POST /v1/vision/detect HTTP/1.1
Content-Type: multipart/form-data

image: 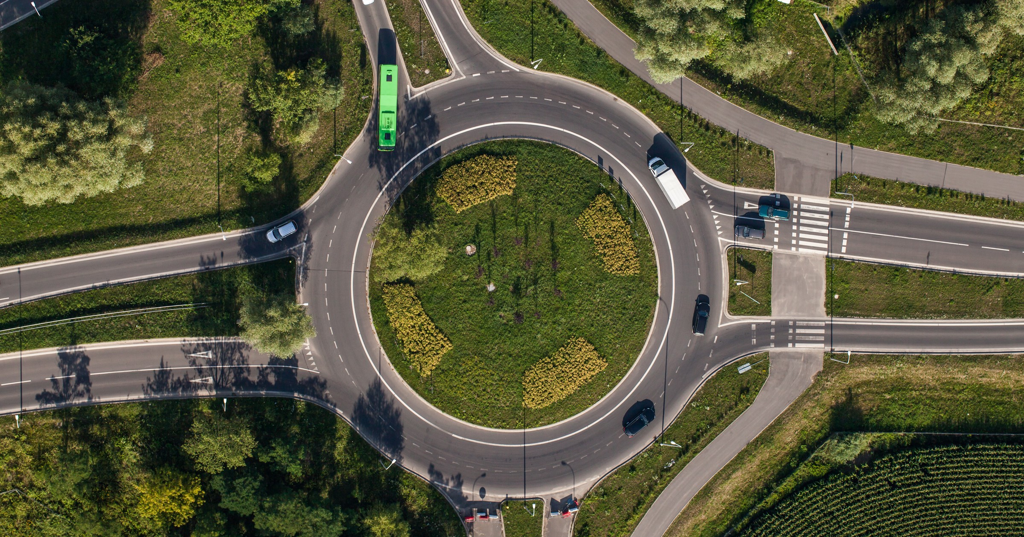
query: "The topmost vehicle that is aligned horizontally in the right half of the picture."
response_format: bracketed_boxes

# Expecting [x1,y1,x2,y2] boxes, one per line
[758,203,791,219]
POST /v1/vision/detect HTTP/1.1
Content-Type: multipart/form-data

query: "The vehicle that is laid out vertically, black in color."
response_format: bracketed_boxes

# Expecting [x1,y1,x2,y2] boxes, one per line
[693,301,711,336]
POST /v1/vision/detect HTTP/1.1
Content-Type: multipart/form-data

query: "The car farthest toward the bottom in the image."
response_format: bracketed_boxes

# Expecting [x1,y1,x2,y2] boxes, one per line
[623,408,655,434]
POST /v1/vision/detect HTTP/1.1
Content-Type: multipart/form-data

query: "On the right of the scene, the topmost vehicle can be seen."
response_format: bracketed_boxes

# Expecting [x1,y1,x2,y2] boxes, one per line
[649,156,691,209]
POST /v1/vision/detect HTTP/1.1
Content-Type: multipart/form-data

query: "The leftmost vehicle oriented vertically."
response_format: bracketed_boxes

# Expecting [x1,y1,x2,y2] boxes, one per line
[376,64,398,153]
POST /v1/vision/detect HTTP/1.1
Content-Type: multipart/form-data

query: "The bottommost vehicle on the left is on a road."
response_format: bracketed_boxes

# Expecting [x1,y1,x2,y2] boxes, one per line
[265,220,299,243]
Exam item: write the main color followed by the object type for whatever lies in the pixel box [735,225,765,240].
gray car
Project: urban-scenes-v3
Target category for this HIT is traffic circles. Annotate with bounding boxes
[302,72,725,496]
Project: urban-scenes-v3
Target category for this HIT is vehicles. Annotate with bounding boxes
[735,225,765,240]
[623,408,655,434]
[265,220,299,243]
[693,301,711,336]
[376,64,398,153]
[758,203,791,219]
[649,156,691,209]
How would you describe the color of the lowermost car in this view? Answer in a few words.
black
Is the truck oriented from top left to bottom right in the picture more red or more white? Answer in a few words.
white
